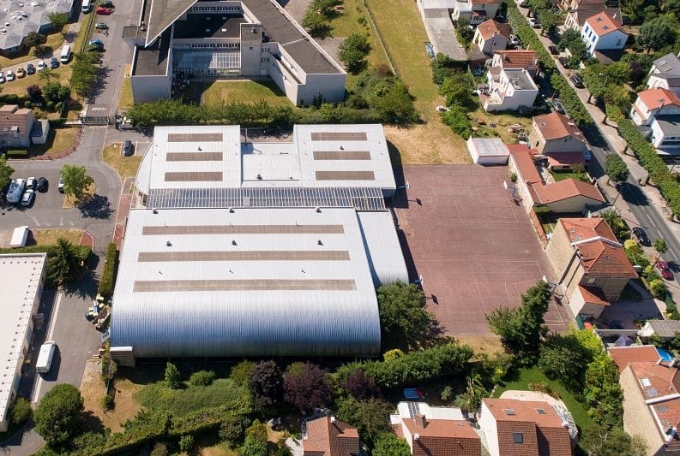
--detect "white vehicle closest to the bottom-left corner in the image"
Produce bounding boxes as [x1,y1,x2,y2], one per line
[33,341,58,379]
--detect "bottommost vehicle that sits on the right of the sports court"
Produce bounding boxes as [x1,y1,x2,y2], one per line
[654,261,676,281]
